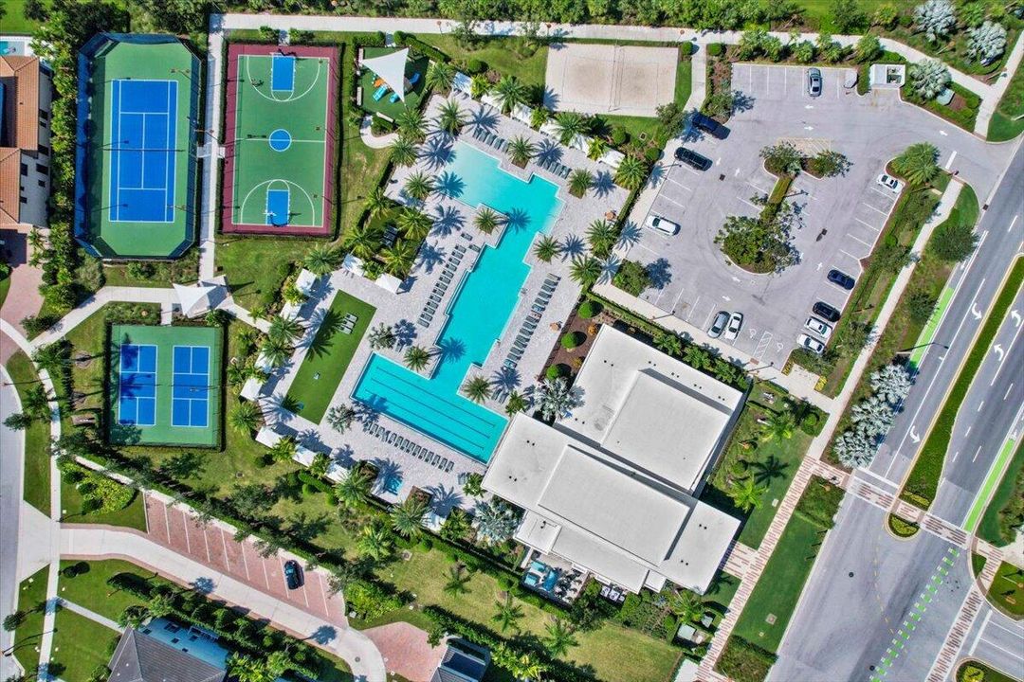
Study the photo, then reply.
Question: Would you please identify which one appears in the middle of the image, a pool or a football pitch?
pool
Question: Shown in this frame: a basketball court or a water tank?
basketball court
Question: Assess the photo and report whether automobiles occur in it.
Yes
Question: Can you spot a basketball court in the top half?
Yes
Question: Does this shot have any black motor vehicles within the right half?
Yes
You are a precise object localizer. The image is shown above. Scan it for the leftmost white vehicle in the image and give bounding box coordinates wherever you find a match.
[647,215,677,235]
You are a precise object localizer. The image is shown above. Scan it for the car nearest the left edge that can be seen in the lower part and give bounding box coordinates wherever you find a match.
[286,560,302,589]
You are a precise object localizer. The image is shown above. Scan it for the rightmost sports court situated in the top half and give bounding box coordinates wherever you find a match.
[545,42,679,117]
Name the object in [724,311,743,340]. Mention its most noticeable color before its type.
white car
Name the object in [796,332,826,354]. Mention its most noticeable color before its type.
white car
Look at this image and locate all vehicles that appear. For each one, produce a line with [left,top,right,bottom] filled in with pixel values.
[286,560,302,589]
[796,332,826,354]
[875,173,904,192]
[678,147,710,170]
[825,270,856,290]
[708,310,729,338]
[812,300,841,322]
[724,311,743,340]
[808,68,823,97]
[693,112,730,139]
[804,317,833,338]
[647,215,677,235]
